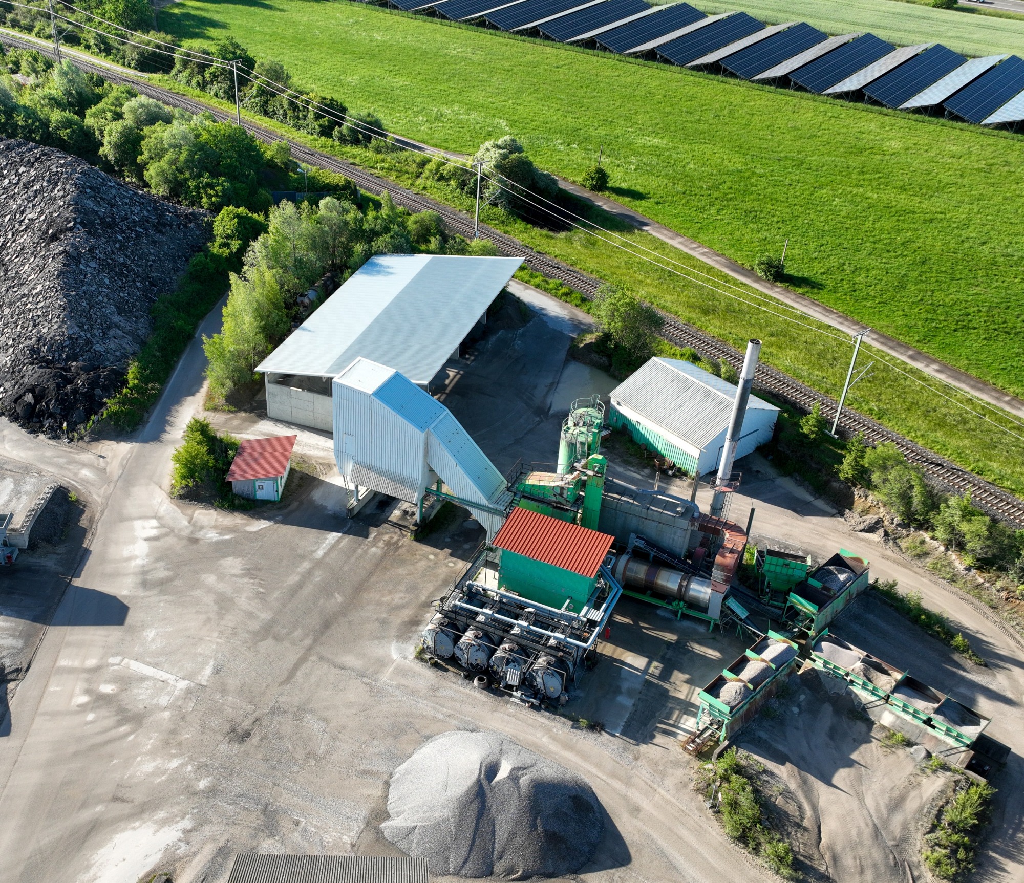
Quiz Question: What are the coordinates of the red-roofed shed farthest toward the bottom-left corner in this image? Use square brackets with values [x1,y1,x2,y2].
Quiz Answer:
[225,435,297,501]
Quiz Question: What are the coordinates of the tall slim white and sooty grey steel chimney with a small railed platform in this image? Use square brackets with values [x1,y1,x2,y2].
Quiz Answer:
[705,337,764,547]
